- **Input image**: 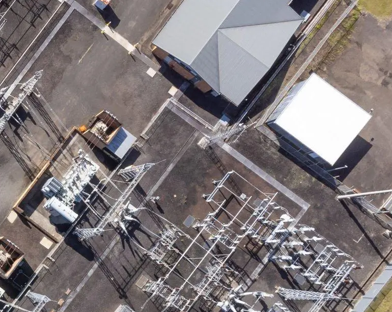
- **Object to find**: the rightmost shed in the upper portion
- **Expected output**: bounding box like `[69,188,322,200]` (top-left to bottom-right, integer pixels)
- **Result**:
[265,73,372,167]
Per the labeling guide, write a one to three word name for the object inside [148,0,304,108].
building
